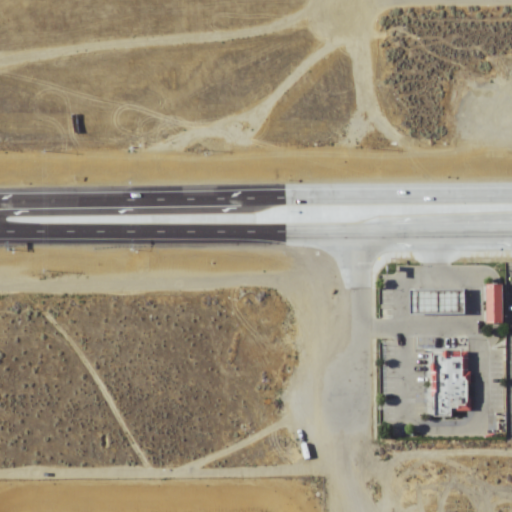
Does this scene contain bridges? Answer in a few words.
No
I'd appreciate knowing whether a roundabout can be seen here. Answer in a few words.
No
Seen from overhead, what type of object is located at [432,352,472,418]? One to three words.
building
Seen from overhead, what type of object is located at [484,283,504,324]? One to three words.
building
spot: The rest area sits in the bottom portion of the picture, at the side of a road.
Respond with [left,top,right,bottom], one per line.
[374,264,506,435]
